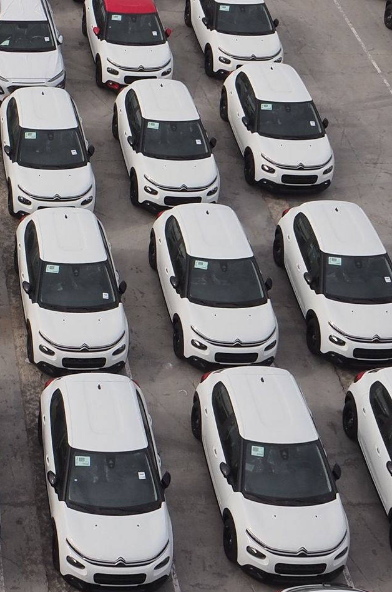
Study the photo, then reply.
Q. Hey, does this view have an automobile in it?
Yes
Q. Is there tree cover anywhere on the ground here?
No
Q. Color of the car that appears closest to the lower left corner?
white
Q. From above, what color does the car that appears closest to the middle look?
white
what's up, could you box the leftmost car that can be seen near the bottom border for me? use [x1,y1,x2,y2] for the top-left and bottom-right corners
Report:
[37,370,172,591]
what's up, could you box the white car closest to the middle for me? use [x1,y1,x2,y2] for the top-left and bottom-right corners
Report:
[150,199,277,368]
